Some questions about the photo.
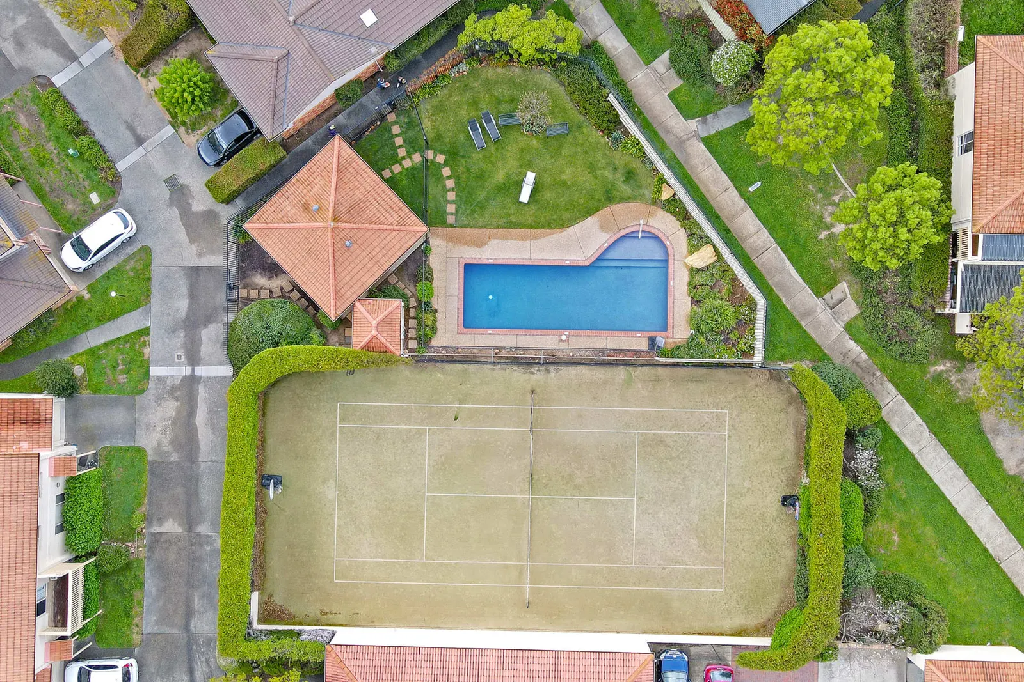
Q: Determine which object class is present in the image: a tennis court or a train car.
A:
tennis court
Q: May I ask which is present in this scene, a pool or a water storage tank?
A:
pool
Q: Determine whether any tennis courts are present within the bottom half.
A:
Yes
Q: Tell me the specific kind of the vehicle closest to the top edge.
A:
automobile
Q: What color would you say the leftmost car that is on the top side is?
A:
white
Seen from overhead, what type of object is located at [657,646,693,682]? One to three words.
car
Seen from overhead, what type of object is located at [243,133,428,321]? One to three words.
building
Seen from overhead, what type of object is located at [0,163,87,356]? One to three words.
house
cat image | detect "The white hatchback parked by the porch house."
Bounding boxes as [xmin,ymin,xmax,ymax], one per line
[60,208,138,268]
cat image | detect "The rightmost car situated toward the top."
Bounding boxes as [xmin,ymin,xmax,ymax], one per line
[193,107,264,166]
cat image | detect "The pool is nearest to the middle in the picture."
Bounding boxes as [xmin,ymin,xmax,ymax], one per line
[464,231,668,331]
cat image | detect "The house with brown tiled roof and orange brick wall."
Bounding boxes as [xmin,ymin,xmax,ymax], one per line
[185,0,457,149]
